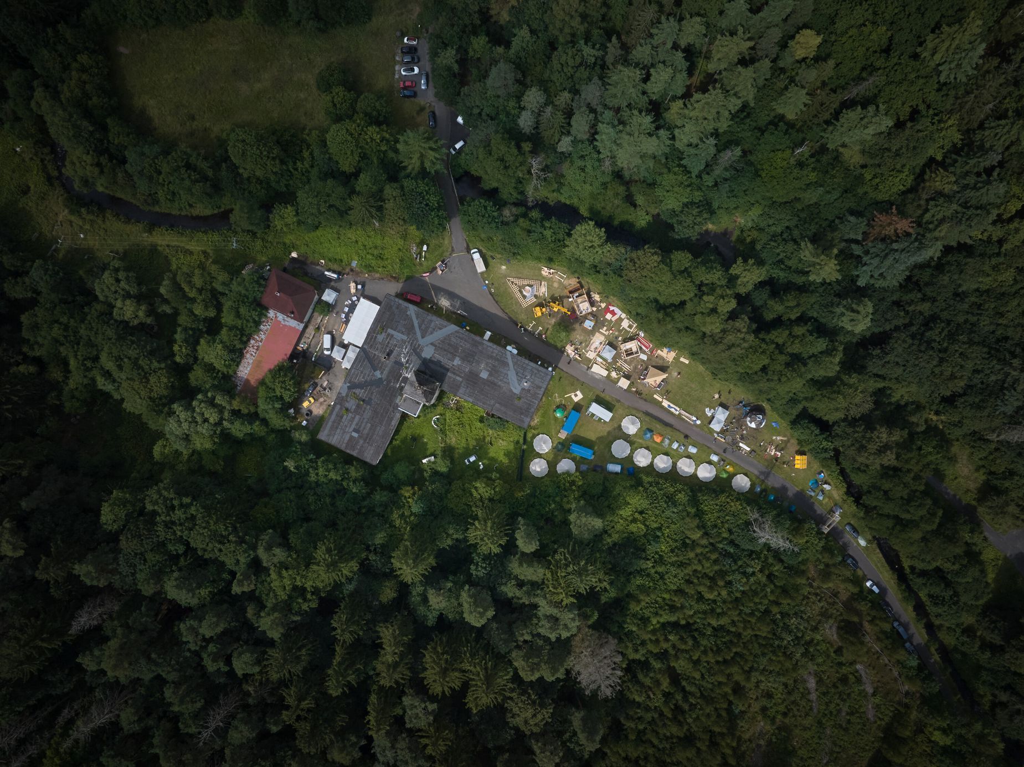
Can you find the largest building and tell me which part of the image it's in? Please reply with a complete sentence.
The largest building is located in the center region of the scene.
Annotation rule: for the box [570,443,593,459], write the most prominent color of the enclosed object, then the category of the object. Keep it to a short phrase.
blue gazebo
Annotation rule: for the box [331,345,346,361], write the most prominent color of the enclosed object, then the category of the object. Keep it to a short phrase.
white gazebo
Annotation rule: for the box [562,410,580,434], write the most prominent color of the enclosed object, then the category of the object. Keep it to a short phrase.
blue gazebo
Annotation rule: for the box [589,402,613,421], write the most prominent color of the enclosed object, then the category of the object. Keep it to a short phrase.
white gazebo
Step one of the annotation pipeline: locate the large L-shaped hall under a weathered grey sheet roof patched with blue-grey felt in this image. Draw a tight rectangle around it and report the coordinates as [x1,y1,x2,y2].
[317,293,553,465]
